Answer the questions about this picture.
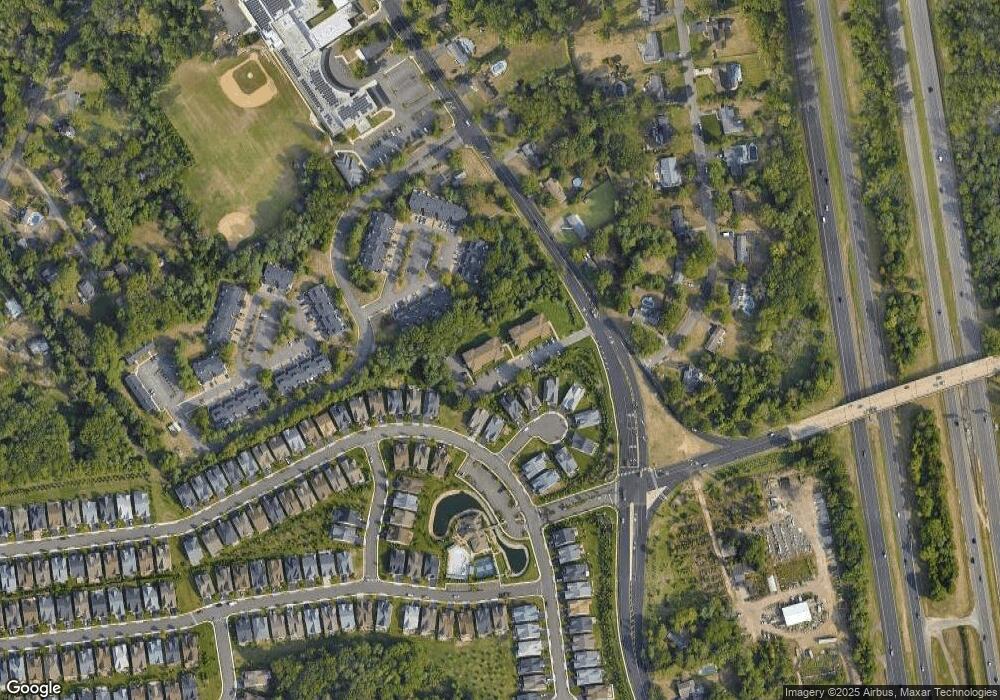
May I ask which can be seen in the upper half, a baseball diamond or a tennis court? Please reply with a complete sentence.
What appears in the upper half is a baseball diamond.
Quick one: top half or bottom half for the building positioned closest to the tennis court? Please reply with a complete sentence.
Seen from above, the building positioned closest to the tennis court lies in the bottom half of the view.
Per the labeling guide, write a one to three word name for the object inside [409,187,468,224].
building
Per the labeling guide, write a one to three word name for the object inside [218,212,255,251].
baseball field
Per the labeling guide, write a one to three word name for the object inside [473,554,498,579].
tennis court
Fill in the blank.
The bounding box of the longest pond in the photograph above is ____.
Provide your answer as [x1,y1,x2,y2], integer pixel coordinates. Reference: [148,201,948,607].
[434,492,528,574]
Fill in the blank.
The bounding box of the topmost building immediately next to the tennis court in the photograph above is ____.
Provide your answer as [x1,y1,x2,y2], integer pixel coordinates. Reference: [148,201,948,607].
[454,509,493,556]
